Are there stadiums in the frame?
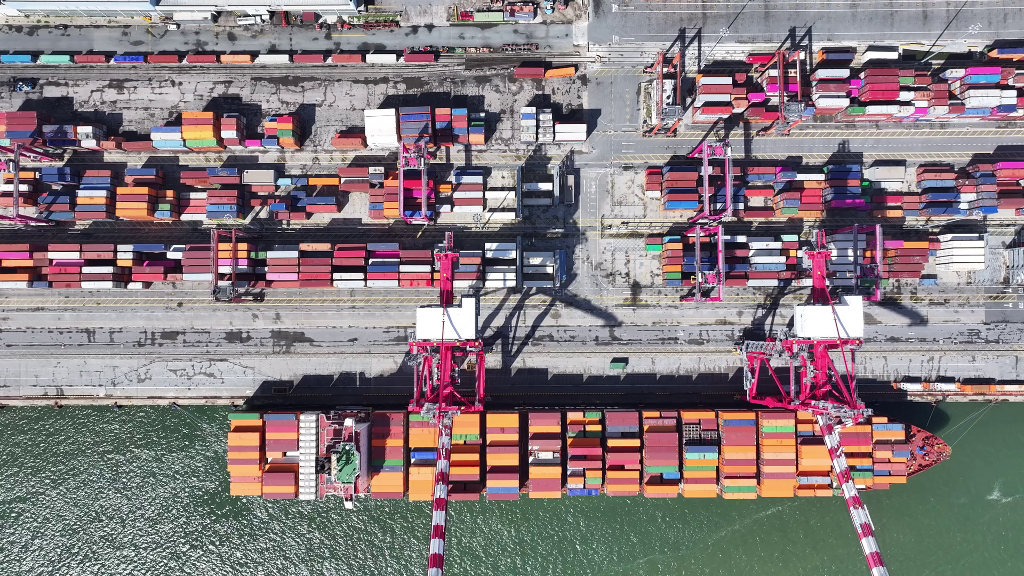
No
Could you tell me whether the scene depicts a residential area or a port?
port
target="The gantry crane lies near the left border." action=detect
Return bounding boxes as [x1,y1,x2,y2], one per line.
[0,146,57,223]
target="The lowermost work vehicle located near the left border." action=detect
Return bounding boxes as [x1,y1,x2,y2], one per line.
[6,77,33,93]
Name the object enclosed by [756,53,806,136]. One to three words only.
container crane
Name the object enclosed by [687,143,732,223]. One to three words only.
container crane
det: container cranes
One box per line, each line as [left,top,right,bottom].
[733,230,887,576]
[407,229,490,576]
[211,230,260,303]
[687,143,732,223]
[827,229,881,302]
[0,146,57,223]
[680,229,723,302]
[756,53,806,136]
[644,52,686,136]
[399,148,435,224]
